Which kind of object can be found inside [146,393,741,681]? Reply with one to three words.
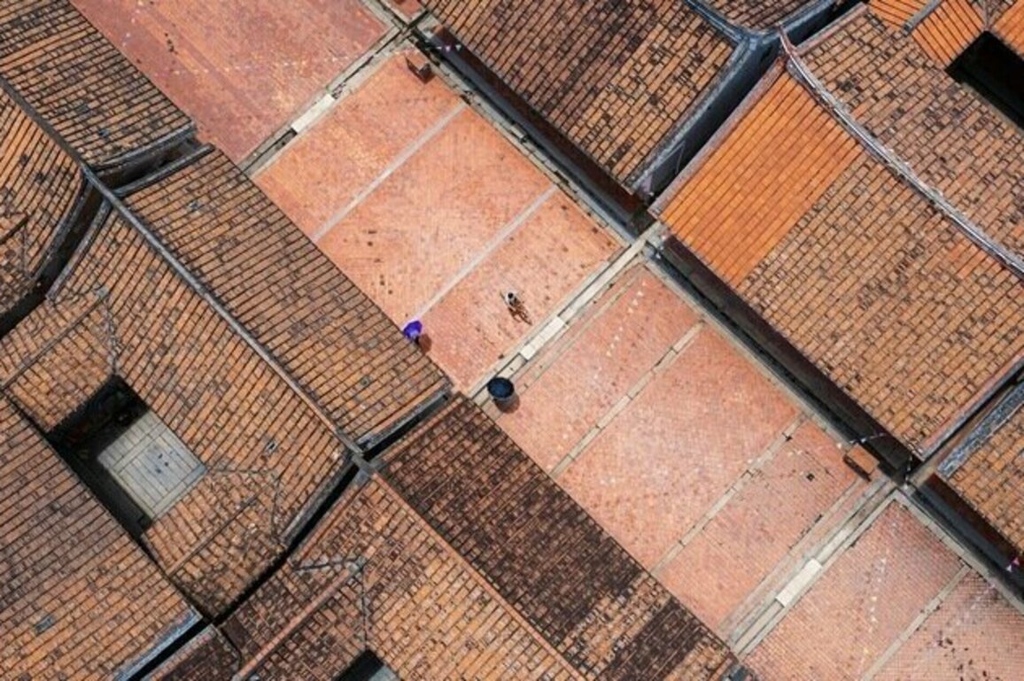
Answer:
house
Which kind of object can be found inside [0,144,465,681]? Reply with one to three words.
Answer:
house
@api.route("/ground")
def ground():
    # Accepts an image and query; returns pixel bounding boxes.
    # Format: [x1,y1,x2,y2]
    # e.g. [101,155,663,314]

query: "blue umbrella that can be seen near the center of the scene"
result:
[404,320,422,338]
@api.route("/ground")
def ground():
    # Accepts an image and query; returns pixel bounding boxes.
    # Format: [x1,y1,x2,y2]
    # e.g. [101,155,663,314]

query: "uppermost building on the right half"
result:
[418,0,829,211]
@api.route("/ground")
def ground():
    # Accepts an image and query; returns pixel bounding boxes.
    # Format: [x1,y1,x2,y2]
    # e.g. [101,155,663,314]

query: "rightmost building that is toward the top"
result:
[648,0,1024,466]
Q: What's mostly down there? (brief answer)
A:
buildings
